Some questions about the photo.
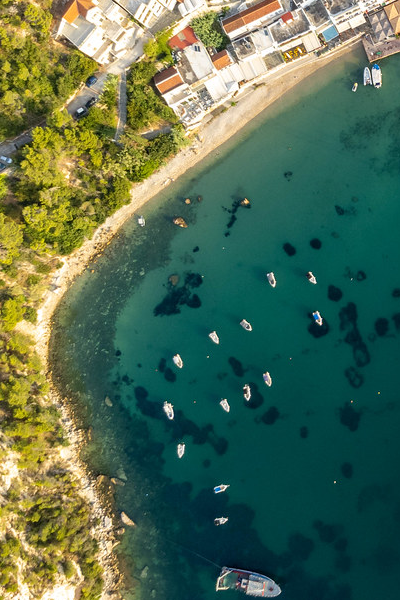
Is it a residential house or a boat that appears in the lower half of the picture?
boat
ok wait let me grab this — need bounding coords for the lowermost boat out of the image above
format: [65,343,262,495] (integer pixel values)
[215,564,281,596]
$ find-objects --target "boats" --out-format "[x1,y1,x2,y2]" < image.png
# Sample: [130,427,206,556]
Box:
[372,64,382,89]
[267,271,275,287]
[243,383,250,401]
[239,318,251,330]
[306,271,315,284]
[178,441,185,457]
[209,330,218,344]
[364,66,371,87]
[163,400,173,419]
[263,370,271,386]
[215,564,281,596]
[172,353,182,368]
[313,309,321,325]
[212,485,228,493]
[139,214,145,226]
[212,518,228,525]
[220,398,229,411]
